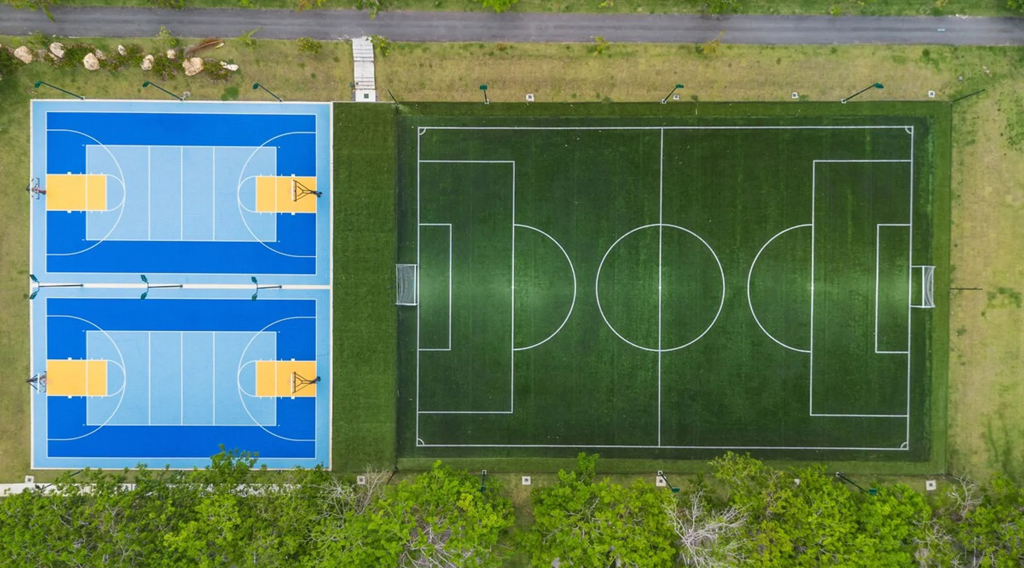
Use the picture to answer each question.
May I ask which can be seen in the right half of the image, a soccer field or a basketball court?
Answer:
soccer field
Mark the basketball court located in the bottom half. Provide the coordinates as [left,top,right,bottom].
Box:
[33,287,330,468]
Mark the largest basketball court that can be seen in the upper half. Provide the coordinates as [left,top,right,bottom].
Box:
[32,102,330,285]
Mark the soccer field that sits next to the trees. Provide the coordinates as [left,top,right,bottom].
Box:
[396,103,951,475]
